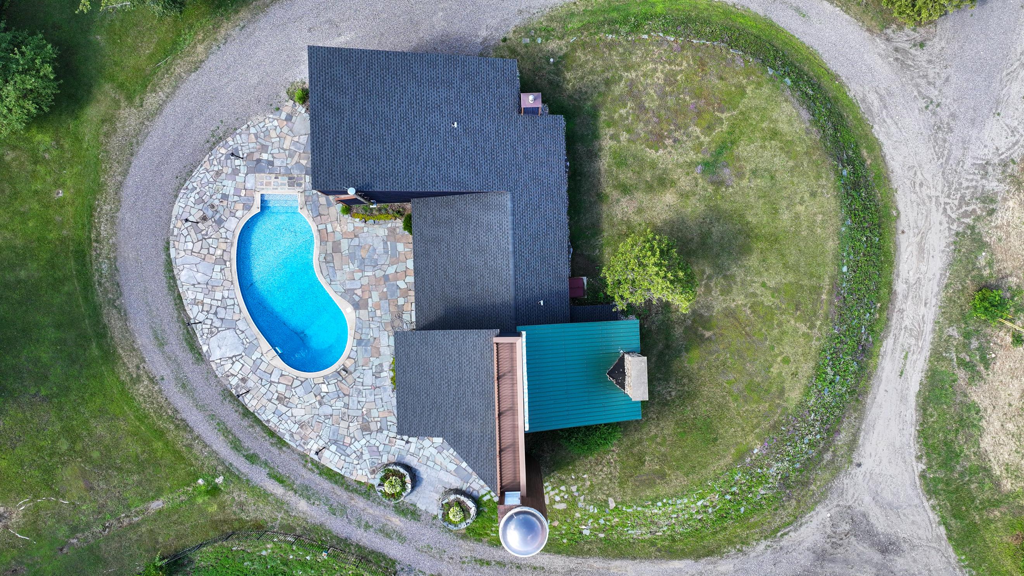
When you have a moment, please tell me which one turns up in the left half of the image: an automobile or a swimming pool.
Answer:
swimming pool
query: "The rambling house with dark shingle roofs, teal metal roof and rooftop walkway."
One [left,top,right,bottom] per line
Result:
[308,46,648,495]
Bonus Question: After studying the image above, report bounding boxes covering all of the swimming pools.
[228,173,356,380]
